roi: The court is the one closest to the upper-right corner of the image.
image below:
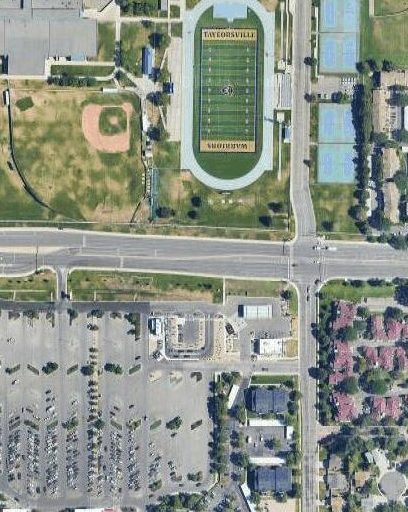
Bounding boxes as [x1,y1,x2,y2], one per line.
[341,0,358,29]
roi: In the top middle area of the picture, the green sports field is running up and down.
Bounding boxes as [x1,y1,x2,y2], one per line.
[193,0,264,180]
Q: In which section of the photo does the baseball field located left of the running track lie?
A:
top left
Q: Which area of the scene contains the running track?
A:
top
